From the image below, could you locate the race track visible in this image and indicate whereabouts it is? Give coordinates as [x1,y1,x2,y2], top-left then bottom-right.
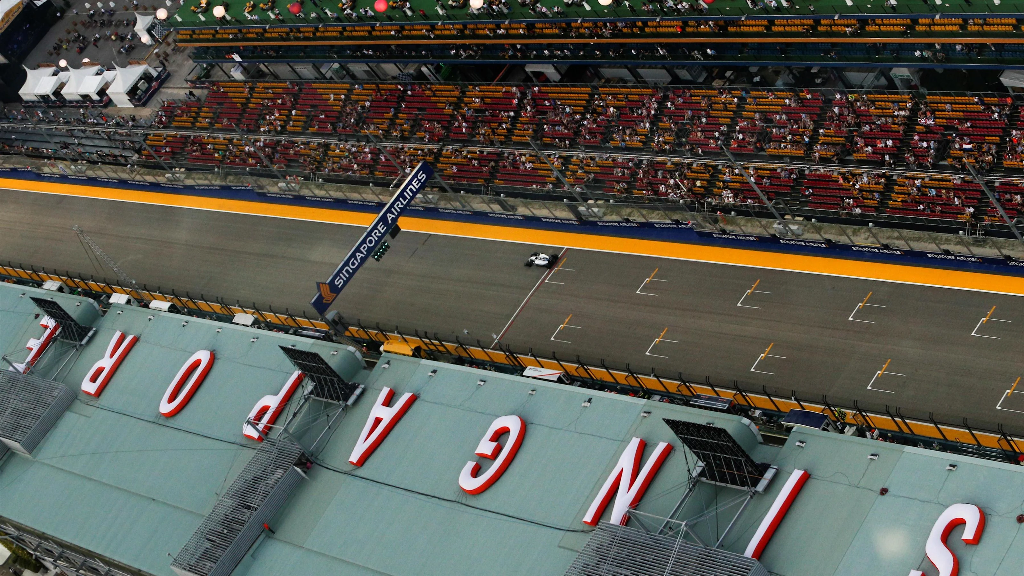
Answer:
[0,170,1024,457]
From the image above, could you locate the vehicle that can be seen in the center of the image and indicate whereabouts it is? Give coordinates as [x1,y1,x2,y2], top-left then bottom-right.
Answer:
[522,250,557,269]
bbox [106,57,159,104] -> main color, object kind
white tent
